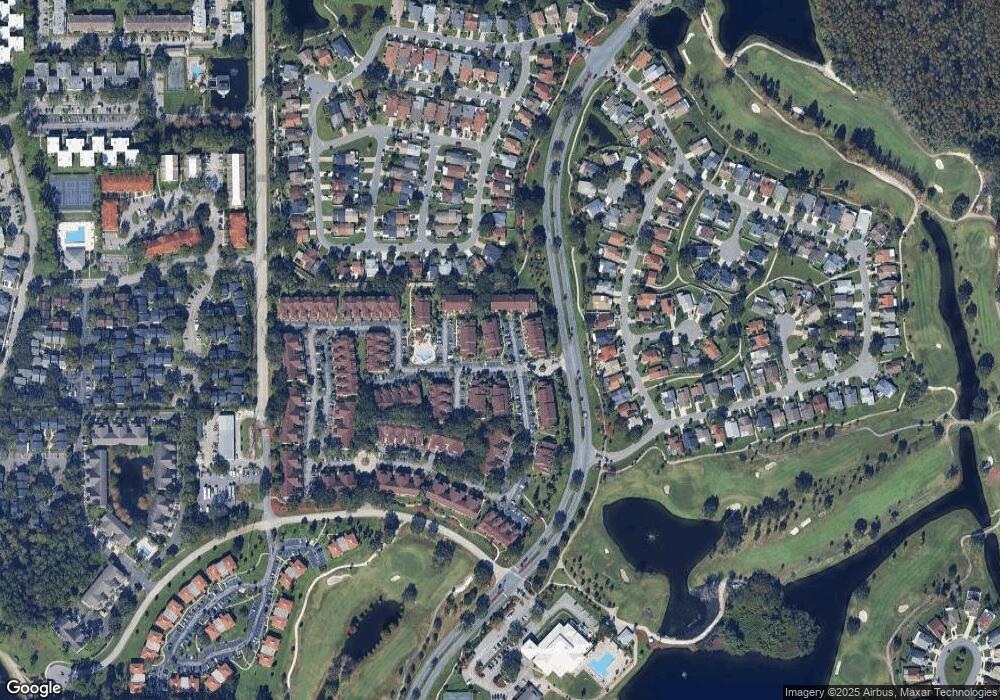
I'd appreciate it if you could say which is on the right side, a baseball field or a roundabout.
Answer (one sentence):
You can see a roundabout on the right side.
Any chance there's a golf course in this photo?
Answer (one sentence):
Yes, a golf course can be made out from above.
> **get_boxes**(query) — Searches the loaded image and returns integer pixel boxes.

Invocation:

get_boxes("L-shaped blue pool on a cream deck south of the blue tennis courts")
[58,222,94,251]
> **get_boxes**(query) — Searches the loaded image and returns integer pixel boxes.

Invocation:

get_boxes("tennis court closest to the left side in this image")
[51,174,94,209]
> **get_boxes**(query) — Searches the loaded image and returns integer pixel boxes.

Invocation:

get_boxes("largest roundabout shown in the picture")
[934,638,986,696]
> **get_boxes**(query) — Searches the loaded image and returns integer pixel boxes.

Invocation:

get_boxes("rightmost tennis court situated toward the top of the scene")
[167,57,185,90]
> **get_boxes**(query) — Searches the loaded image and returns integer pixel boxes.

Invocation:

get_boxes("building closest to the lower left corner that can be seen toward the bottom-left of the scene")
[54,611,88,648]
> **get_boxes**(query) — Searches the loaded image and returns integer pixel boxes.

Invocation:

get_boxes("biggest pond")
[603,497,724,639]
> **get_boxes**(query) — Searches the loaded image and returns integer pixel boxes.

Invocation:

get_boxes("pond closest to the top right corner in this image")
[647,9,690,78]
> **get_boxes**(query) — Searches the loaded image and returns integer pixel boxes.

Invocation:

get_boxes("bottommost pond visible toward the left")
[344,599,402,661]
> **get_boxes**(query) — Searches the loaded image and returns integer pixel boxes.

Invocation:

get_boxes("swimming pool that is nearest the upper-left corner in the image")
[188,58,205,80]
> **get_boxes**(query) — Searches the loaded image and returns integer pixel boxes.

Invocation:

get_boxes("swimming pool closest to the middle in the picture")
[411,334,434,364]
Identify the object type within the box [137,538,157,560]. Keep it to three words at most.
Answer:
swimming pool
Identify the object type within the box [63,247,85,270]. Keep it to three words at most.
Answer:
building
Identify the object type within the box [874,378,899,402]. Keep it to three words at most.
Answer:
house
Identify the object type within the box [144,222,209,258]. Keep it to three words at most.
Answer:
building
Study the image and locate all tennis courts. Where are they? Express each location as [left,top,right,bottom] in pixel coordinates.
[443,692,473,700]
[51,174,94,209]
[167,57,185,90]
